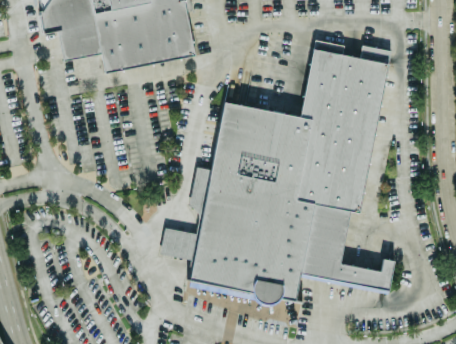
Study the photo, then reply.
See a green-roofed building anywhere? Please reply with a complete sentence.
No, no green-roofed building is visible in the scene.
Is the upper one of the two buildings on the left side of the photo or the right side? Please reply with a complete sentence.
The upper one of the two buildings appears in the left half of the scene.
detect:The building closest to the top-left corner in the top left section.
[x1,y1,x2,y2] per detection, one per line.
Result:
[40,0,194,75]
